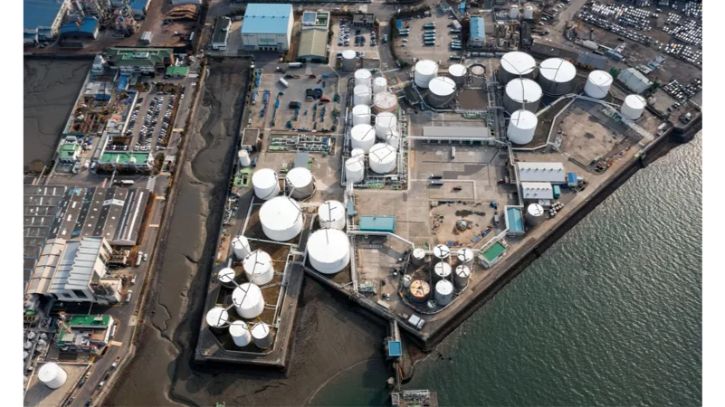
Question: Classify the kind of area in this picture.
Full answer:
It's an industrial area.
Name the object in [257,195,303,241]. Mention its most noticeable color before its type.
white storage tank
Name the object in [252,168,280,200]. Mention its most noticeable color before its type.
white storage tank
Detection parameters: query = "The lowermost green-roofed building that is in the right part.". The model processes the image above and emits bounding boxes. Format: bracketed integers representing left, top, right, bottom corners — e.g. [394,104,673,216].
[479,239,508,266]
